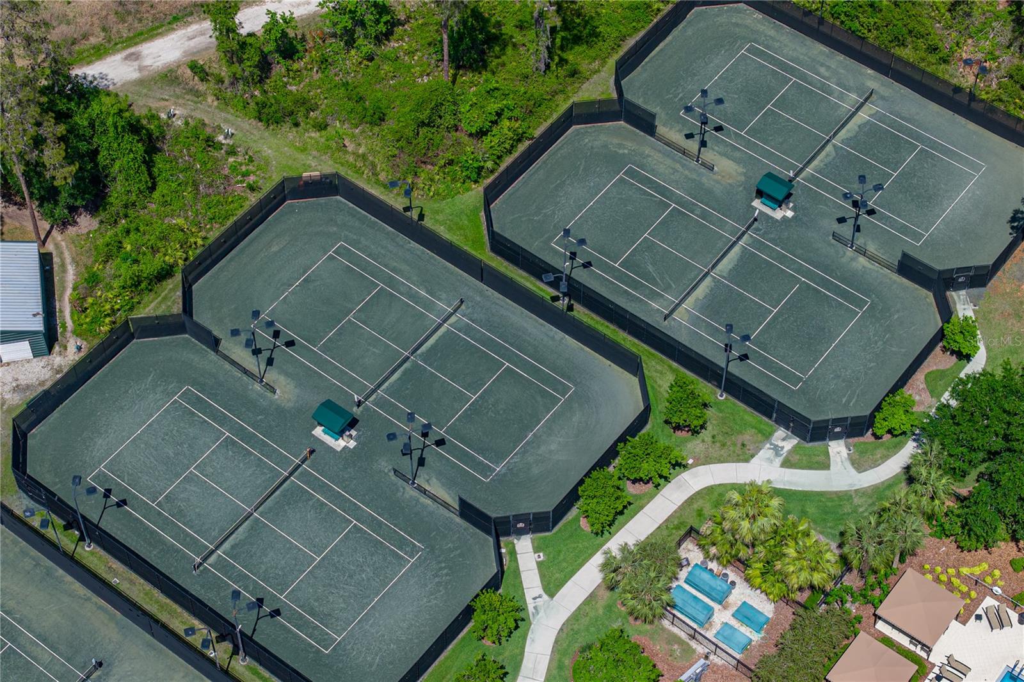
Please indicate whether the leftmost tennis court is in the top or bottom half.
bottom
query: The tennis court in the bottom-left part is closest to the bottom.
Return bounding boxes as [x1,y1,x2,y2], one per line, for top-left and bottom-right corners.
[0,524,211,682]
